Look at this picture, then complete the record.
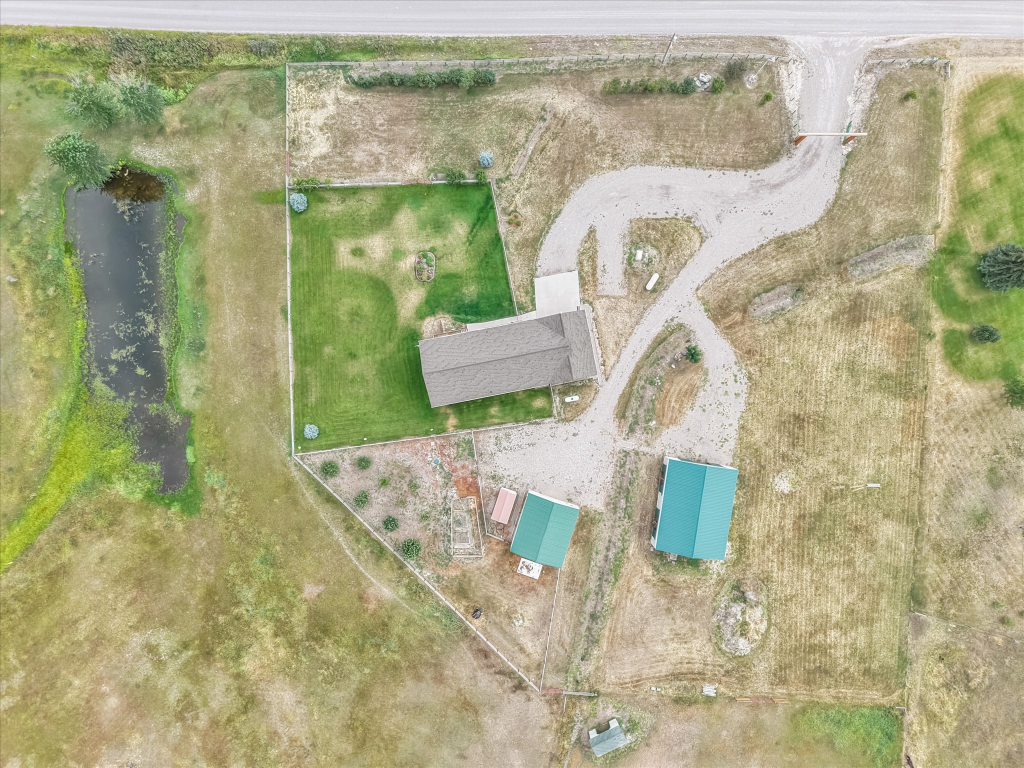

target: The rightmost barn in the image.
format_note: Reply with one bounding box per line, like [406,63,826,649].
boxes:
[651,457,739,560]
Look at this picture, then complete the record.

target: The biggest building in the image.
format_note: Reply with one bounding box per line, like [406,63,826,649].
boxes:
[414,306,598,408]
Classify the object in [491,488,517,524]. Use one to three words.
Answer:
shed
